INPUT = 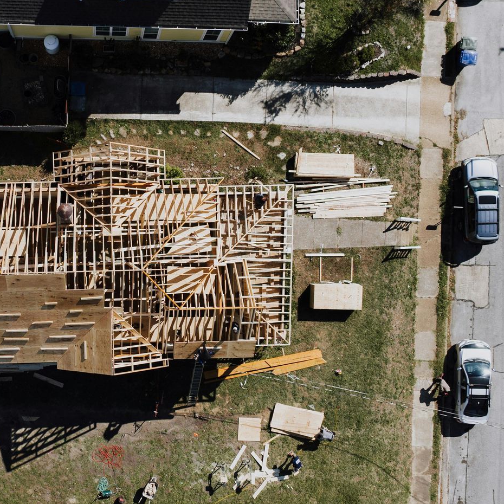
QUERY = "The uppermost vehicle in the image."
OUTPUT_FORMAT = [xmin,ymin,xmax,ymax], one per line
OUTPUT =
[453,156,503,244]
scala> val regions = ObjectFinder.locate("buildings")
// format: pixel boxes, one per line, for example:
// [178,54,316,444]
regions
[0,142,295,376]
[0,0,301,47]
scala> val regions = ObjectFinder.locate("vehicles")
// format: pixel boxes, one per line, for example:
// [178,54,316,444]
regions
[448,338,496,423]
[453,156,503,244]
